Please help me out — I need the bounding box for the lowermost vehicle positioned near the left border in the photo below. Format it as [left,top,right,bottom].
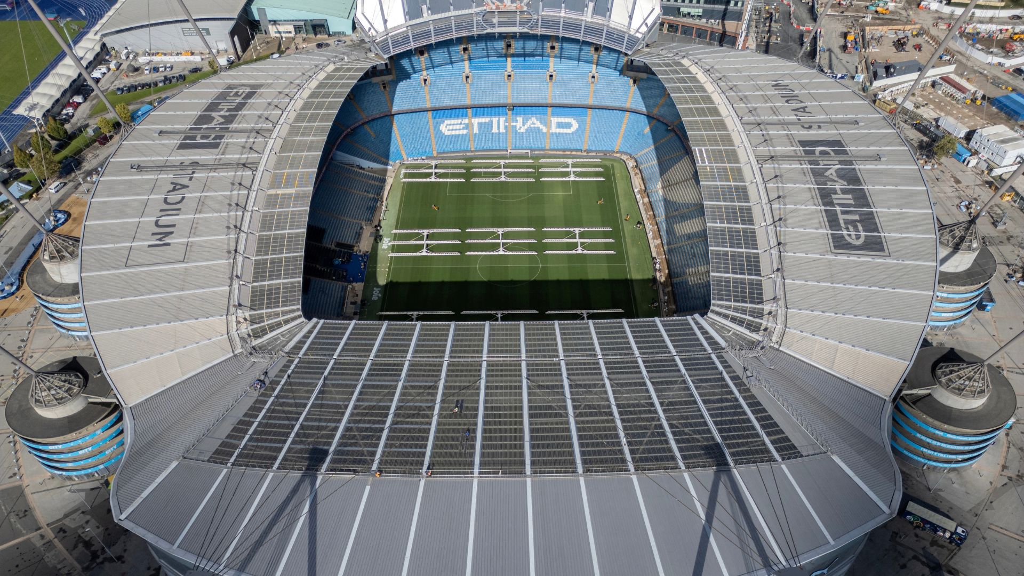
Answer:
[45,178,65,192]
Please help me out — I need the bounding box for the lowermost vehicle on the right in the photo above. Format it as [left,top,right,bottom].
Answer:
[901,503,970,551]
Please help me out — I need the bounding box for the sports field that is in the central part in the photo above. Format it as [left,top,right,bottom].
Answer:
[378,161,642,319]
